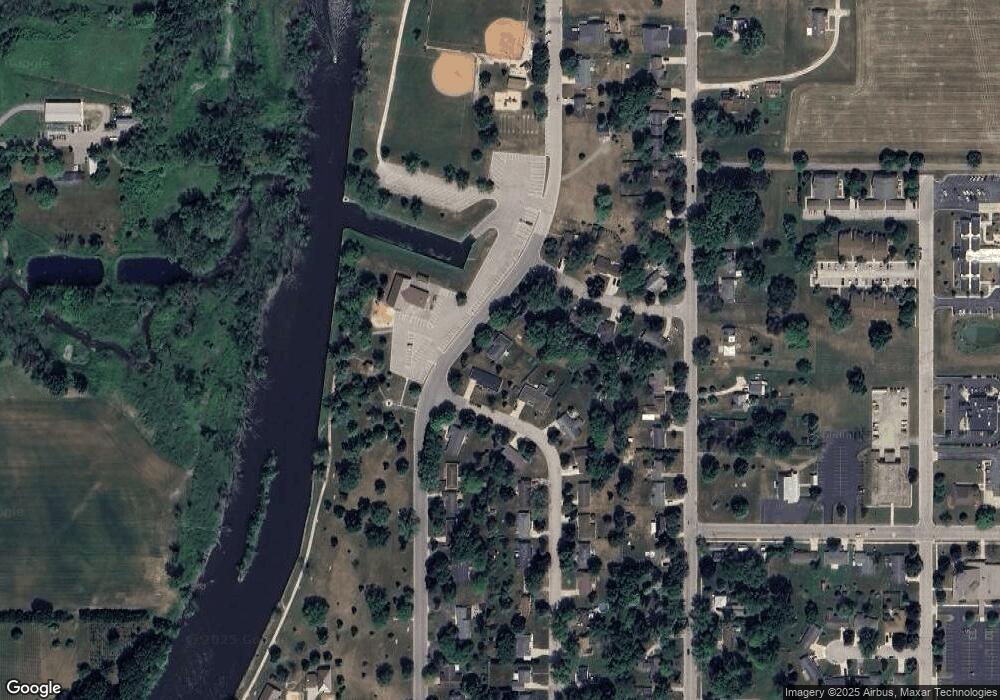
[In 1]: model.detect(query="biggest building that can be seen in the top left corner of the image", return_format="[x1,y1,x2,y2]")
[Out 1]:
[44,103,81,122]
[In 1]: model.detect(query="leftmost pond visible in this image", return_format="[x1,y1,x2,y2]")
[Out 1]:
[26,256,103,290]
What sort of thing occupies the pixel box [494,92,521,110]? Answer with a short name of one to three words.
playground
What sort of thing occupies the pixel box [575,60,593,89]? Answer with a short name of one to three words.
house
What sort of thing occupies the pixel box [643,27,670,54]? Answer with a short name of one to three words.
house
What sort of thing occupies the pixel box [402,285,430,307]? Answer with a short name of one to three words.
building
